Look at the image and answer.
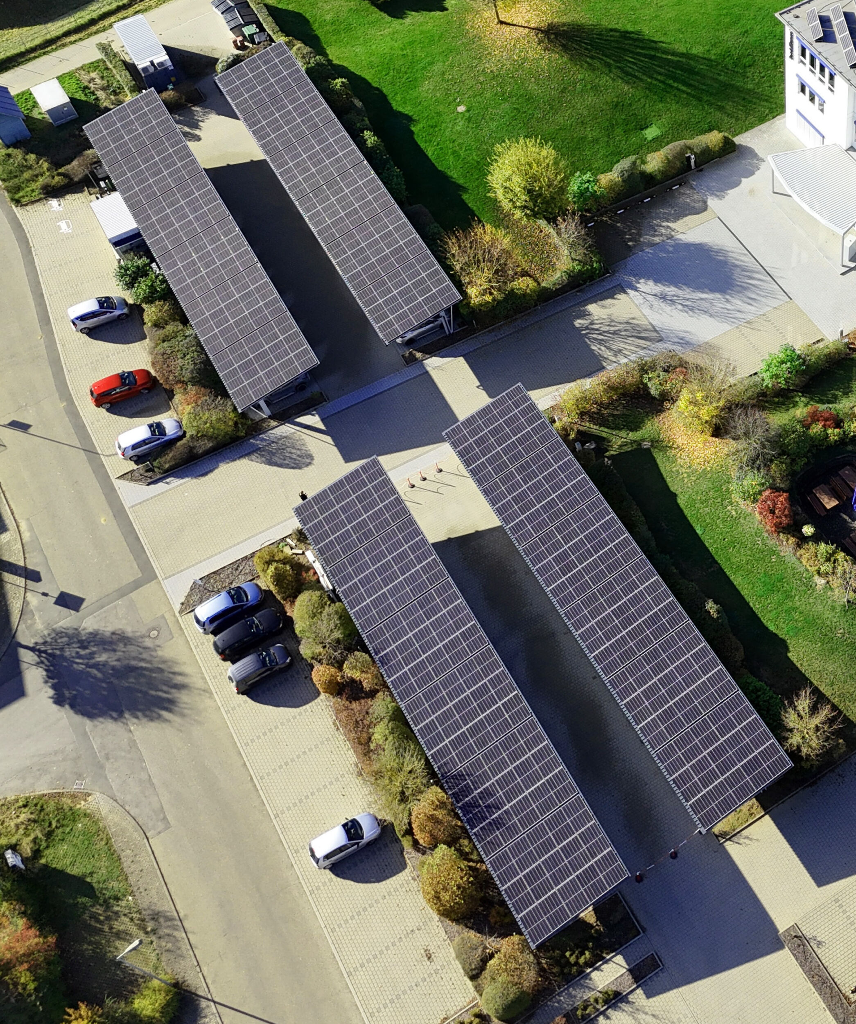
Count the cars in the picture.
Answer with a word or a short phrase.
nine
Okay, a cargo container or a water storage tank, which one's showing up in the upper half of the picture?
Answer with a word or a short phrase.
cargo container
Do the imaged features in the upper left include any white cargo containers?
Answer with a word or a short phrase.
Yes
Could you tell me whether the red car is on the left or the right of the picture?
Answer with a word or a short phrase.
left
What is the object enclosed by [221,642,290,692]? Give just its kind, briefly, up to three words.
car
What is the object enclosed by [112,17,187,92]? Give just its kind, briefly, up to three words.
shipping container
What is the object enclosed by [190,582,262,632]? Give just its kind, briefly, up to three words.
car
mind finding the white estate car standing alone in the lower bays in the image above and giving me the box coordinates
[302,813,382,870]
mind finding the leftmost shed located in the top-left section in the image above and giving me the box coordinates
[0,83,31,145]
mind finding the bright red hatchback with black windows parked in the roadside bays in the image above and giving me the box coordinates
[87,367,155,408]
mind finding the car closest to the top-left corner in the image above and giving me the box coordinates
[65,294,130,334]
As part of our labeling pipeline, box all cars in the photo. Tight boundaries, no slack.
[302,813,382,870]
[221,642,290,692]
[258,374,313,406]
[190,582,262,632]
[398,312,454,345]
[114,418,182,460]
[87,367,155,408]
[208,608,281,658]
[65,294,130,334]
